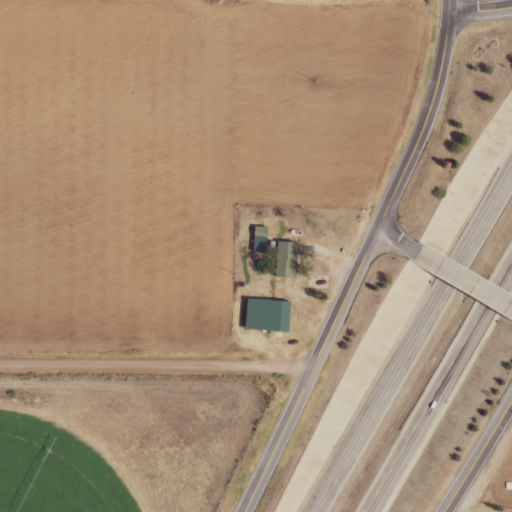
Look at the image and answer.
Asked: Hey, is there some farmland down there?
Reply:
Yes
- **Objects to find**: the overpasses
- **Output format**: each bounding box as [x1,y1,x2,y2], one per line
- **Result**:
[408,242,512,321]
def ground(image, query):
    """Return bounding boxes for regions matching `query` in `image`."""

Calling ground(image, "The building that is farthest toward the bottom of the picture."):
[246,298,292,332]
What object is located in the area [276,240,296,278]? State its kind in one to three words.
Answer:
house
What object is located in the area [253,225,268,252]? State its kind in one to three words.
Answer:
shed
